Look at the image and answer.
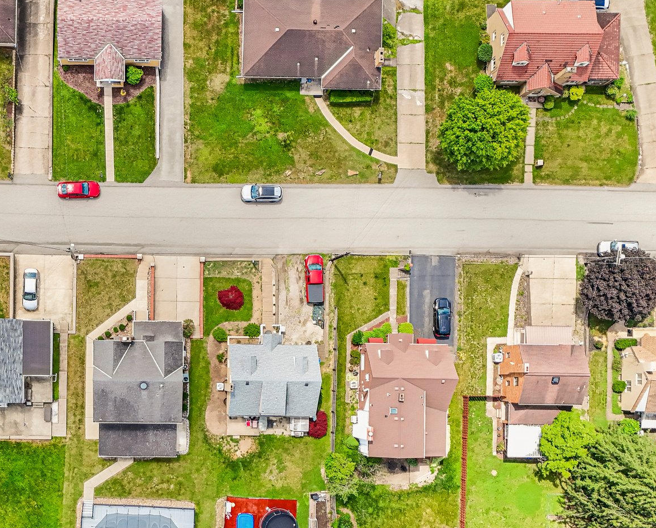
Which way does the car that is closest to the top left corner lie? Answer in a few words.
from left to right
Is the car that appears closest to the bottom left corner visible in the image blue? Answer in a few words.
No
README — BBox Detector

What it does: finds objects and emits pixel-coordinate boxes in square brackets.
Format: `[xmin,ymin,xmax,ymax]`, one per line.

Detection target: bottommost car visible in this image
[430,296,453,339]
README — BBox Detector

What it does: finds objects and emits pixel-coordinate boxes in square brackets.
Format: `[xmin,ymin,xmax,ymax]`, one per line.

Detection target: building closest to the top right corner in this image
[478,0,621,98]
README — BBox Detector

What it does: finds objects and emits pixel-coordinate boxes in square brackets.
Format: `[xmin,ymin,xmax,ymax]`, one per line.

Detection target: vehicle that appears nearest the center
[303,253,325,306]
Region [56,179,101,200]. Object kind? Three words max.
car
